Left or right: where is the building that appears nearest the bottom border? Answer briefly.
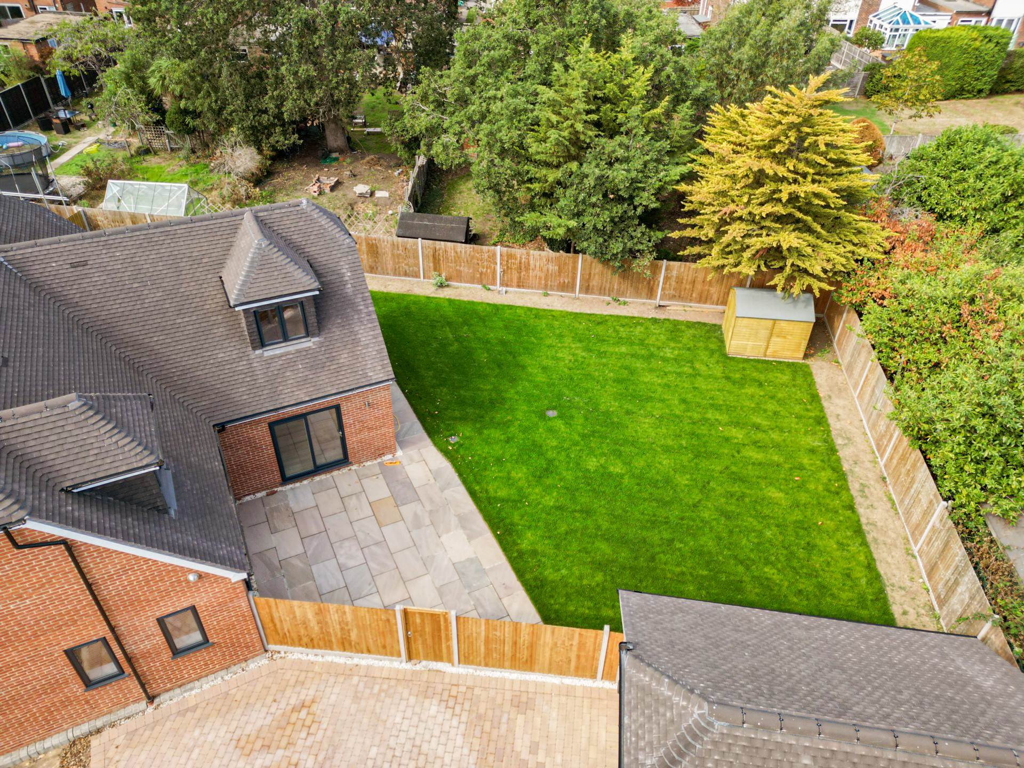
right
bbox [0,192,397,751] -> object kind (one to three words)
house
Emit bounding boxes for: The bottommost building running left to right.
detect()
[613,586,1024,768]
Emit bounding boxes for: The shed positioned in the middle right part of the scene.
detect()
[720,284,819,361]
